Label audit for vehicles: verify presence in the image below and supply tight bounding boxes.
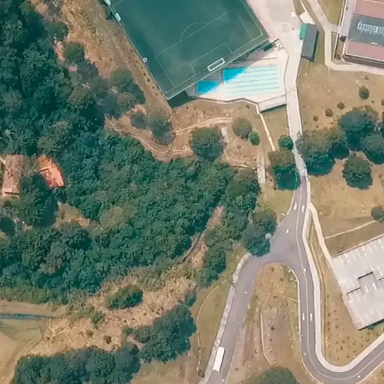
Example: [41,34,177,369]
[211,345,224,373]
